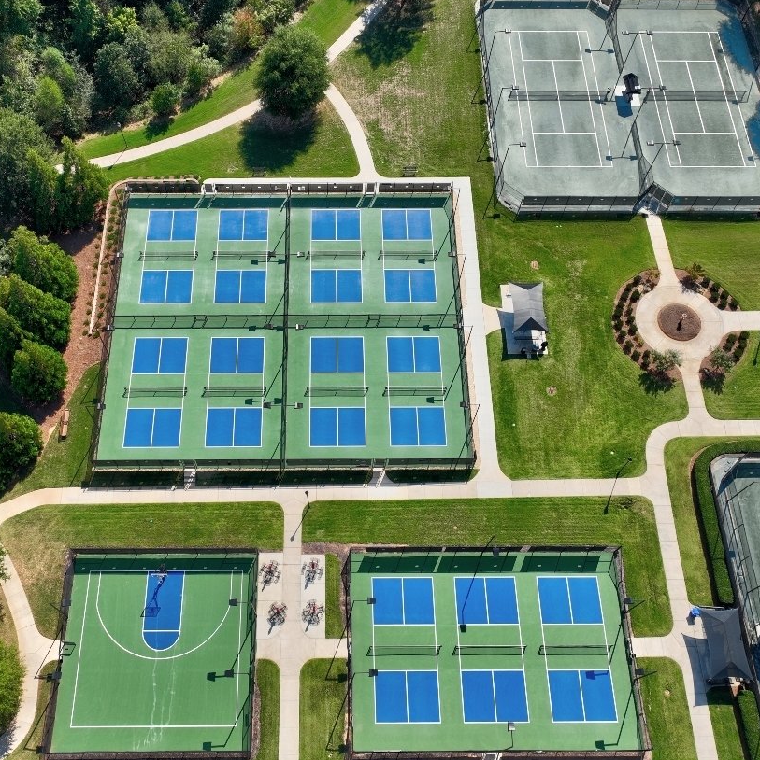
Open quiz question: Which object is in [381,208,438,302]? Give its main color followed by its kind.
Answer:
blue sports court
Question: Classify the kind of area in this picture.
sports ground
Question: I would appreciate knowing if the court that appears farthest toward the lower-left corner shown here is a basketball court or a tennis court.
basketball court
